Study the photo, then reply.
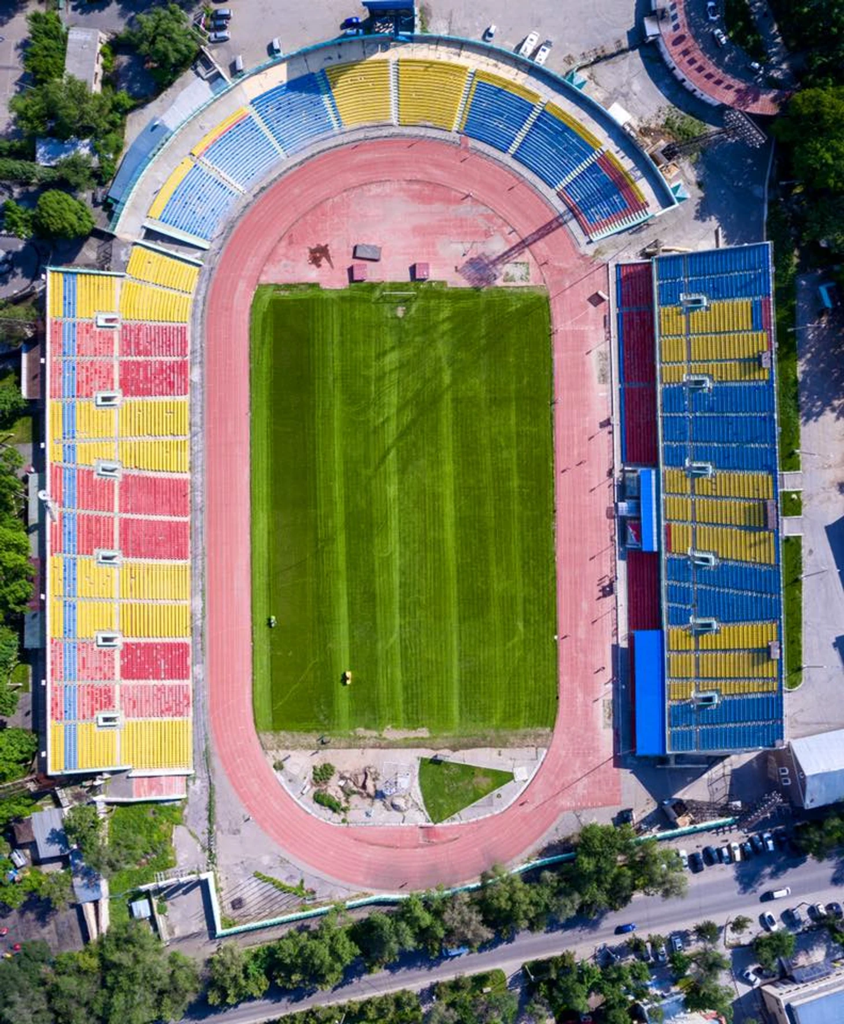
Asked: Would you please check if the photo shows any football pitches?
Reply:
Yes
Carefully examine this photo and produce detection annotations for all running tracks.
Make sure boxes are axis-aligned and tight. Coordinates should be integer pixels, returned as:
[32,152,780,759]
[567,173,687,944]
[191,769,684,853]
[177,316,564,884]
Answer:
[206,138,621,890]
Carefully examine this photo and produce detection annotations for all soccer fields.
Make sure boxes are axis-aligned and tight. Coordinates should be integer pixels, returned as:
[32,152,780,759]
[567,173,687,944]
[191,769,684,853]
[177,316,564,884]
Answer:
[251,282,558,751]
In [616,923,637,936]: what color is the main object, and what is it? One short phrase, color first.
blue vehicle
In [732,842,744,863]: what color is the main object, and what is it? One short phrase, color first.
white vehicle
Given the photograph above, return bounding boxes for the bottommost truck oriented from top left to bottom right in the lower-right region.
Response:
[743,968,765,991]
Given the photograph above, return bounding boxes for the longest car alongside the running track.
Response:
[620,807,632,829]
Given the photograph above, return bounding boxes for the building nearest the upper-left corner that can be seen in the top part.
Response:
[64,27,109,96]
